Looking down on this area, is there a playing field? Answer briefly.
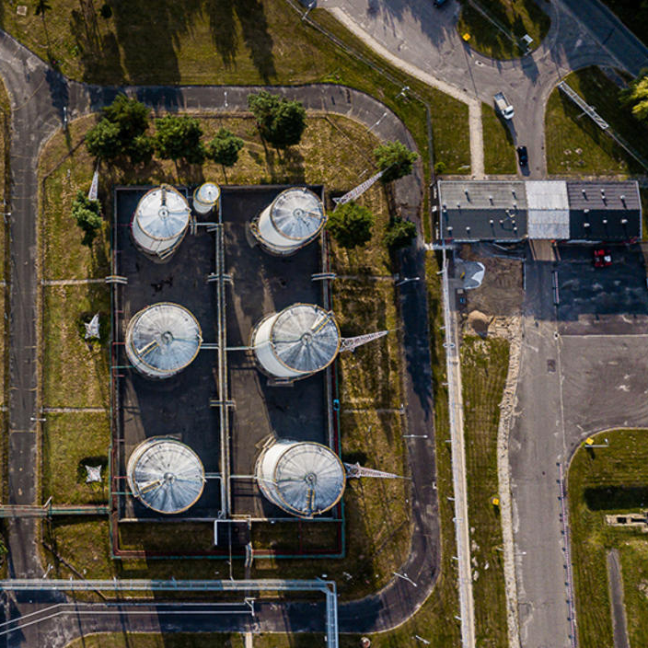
No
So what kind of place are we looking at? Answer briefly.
industrial area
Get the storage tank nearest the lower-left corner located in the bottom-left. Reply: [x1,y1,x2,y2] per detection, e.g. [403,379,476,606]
[125,439,206,513]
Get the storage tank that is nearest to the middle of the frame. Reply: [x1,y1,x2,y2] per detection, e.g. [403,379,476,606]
[253,303,343,379]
